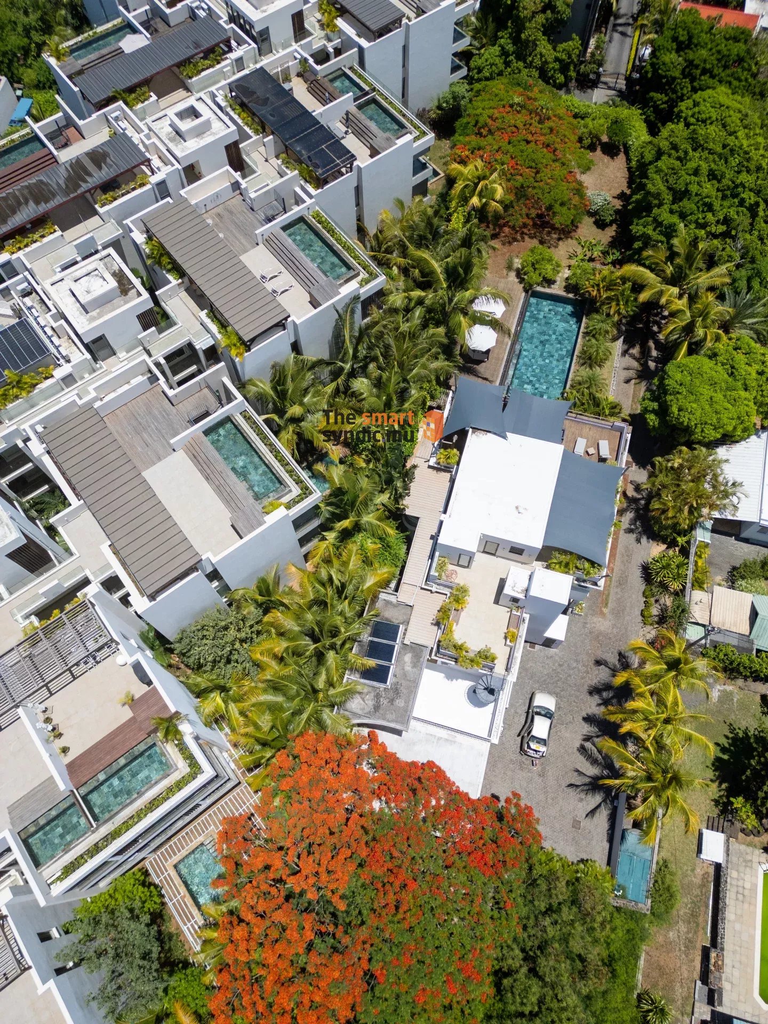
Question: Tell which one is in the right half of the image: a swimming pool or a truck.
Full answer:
Visible in the right half of the image is a swimming pool.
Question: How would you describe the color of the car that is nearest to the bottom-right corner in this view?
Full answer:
In this view, the car that is nearest to the bottom-right corner is white.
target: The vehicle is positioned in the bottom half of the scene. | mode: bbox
[519,691,556,761]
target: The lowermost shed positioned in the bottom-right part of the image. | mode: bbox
[688,829,725,864]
